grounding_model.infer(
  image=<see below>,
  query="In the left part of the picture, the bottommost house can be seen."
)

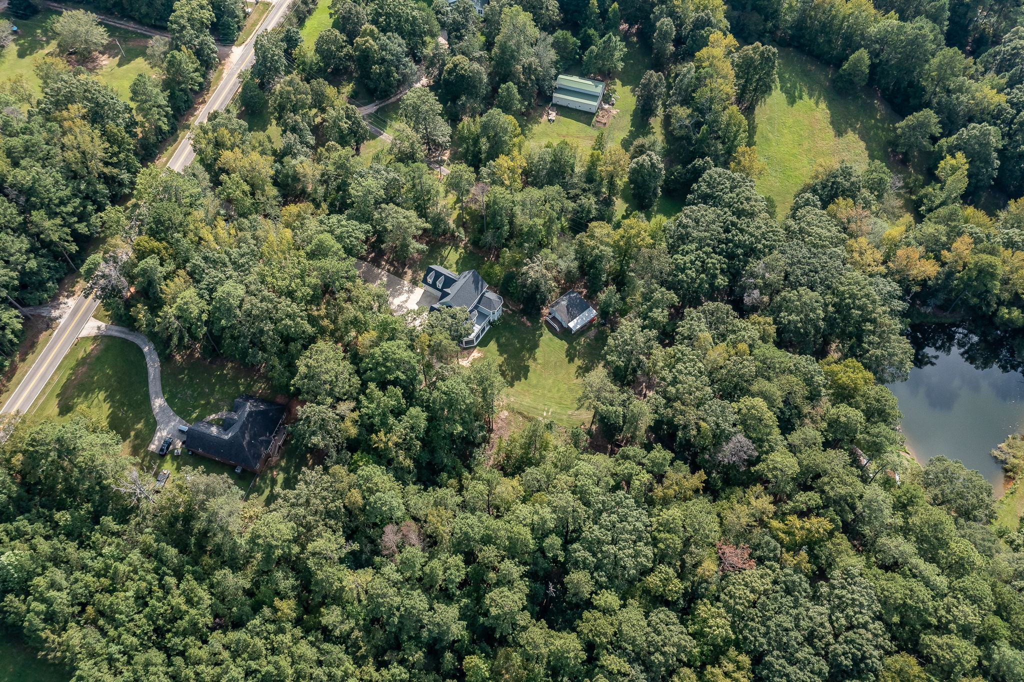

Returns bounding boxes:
[184,394,289,472]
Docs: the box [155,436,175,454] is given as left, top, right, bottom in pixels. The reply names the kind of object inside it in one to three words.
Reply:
car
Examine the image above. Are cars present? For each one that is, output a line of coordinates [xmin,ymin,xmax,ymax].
[173,422,192,433]
[155,436,175,454]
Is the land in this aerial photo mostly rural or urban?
rural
